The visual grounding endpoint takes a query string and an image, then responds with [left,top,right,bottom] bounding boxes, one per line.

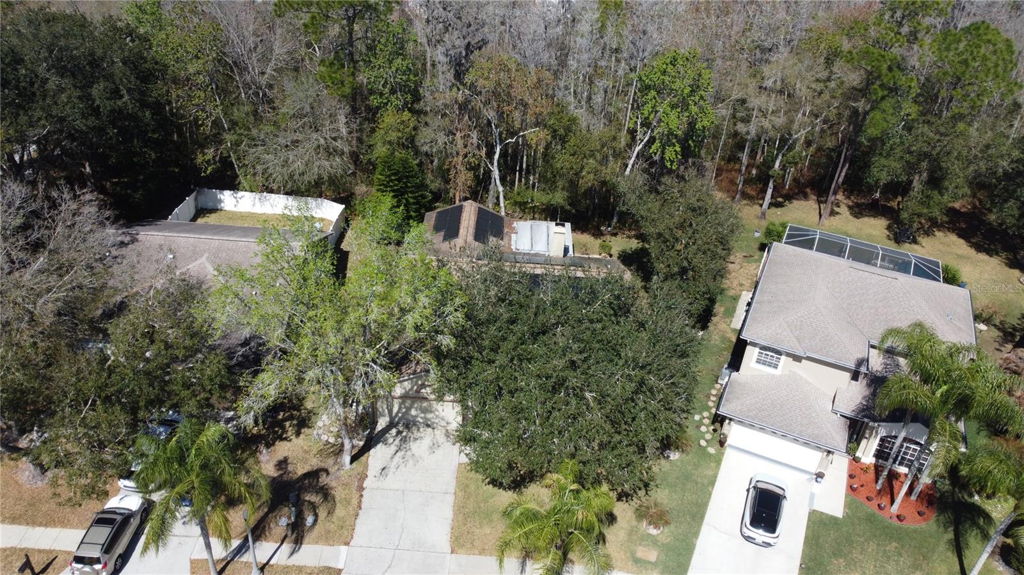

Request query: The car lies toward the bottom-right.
[739,473,790,549]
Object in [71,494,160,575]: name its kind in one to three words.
car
